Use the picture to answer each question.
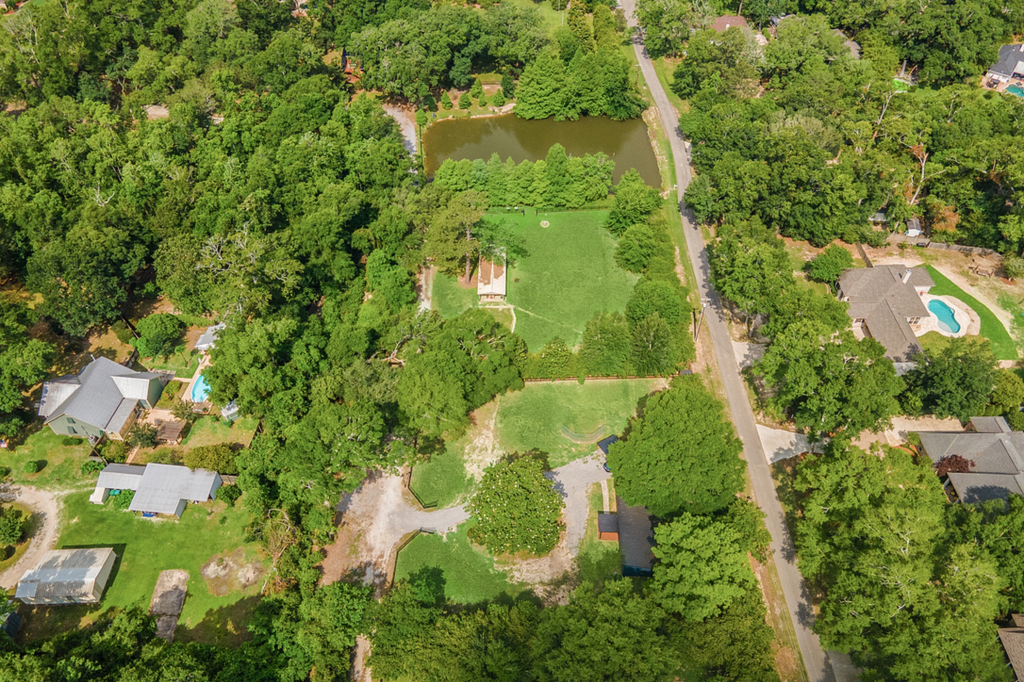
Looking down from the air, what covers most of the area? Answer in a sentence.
The scene is dominated by trees.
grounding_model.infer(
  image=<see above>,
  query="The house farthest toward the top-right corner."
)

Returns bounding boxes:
[984,42,1024,87]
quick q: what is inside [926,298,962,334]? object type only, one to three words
swimming pool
